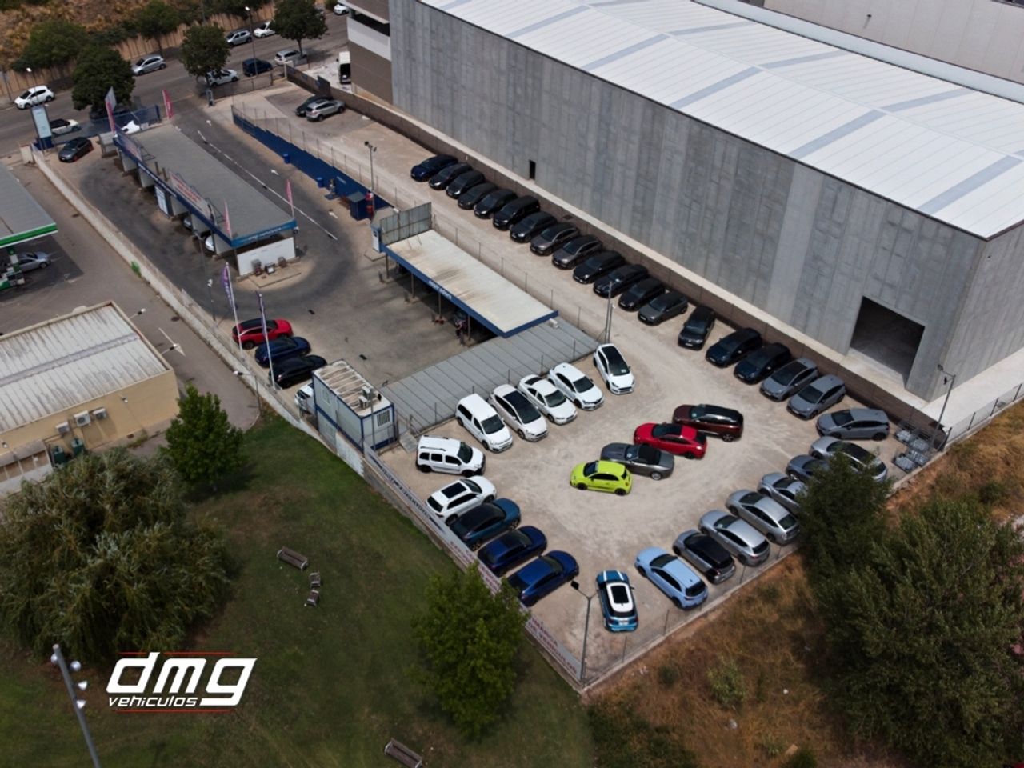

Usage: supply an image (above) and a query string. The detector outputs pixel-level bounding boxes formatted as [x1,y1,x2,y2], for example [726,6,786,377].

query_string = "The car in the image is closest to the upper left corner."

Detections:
[14,86,57,108]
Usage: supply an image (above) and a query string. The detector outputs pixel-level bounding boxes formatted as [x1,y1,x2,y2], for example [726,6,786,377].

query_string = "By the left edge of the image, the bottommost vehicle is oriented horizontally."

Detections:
[0,247,57,271]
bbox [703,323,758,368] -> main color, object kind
black car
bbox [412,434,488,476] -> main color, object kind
white car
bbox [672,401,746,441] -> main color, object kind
black car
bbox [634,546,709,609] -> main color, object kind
blue car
